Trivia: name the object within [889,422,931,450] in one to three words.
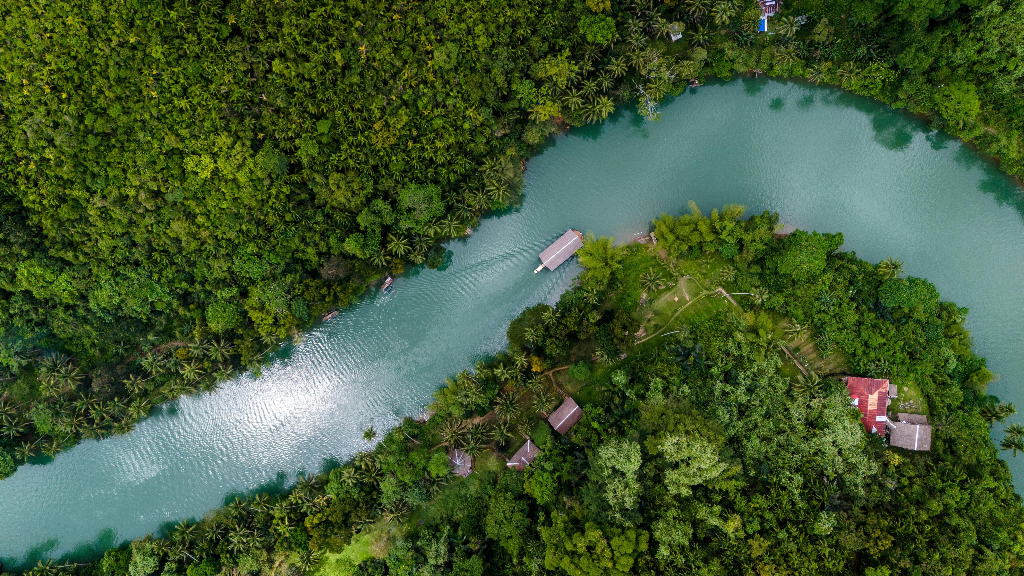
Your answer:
house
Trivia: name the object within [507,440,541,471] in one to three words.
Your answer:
shed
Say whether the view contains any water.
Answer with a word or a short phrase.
Yes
